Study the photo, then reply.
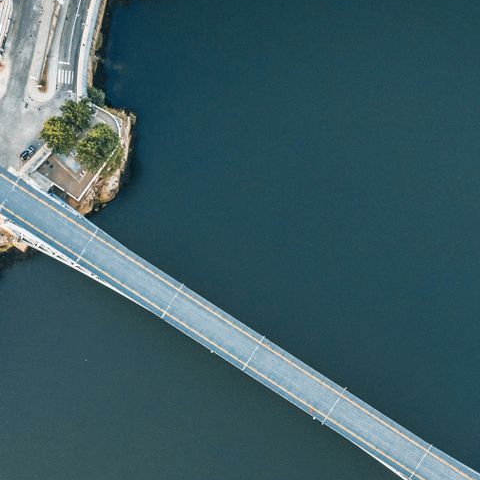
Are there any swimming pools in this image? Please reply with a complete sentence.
No, this view has no swimming pool in it.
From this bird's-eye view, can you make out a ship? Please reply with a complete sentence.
No, no ship is visible in the view.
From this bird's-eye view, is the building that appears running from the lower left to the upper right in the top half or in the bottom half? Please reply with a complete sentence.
Seen from above, the building that appears running from the lower left to the upper right lies in the top half of the view.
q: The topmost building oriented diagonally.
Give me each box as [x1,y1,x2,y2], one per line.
[21,145,54,177]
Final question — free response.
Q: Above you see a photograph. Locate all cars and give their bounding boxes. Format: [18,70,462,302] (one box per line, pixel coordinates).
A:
[20,145,35,159]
